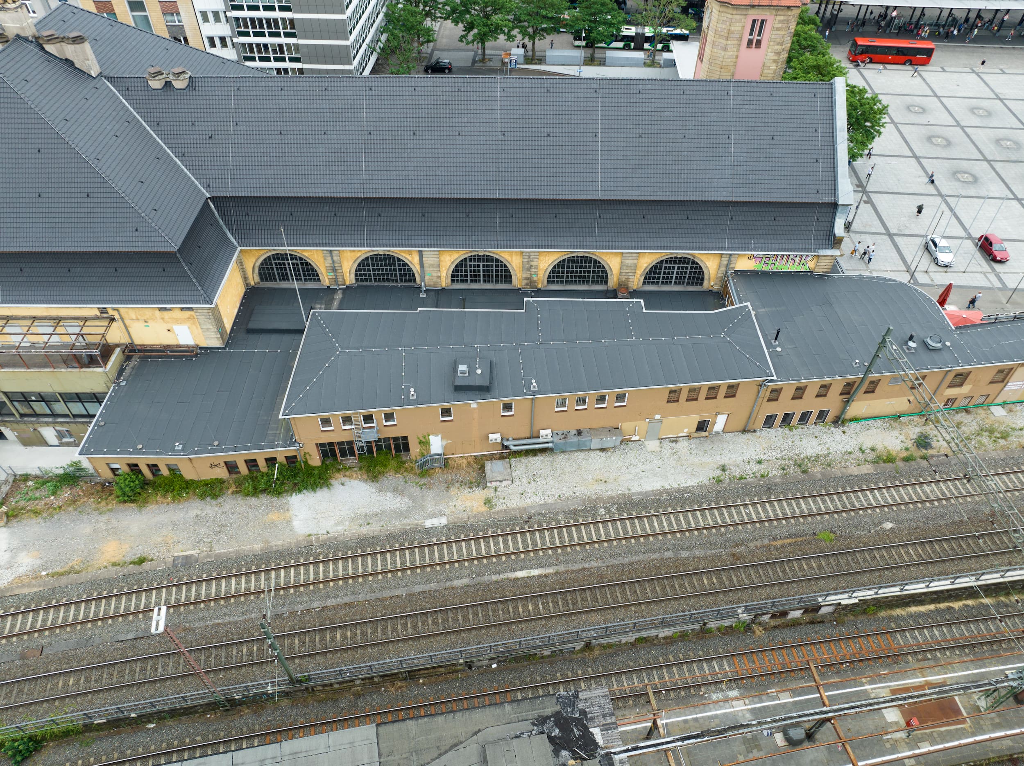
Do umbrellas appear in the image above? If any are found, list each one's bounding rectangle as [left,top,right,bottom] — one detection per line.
[938,282,955,305]
[939,302,990,328]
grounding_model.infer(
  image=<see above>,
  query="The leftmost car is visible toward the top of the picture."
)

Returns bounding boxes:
[423,58,451,72]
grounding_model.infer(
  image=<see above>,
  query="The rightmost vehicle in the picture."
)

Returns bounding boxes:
[978,230,1014,259]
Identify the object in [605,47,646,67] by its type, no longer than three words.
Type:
shed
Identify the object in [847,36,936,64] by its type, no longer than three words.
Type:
bus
